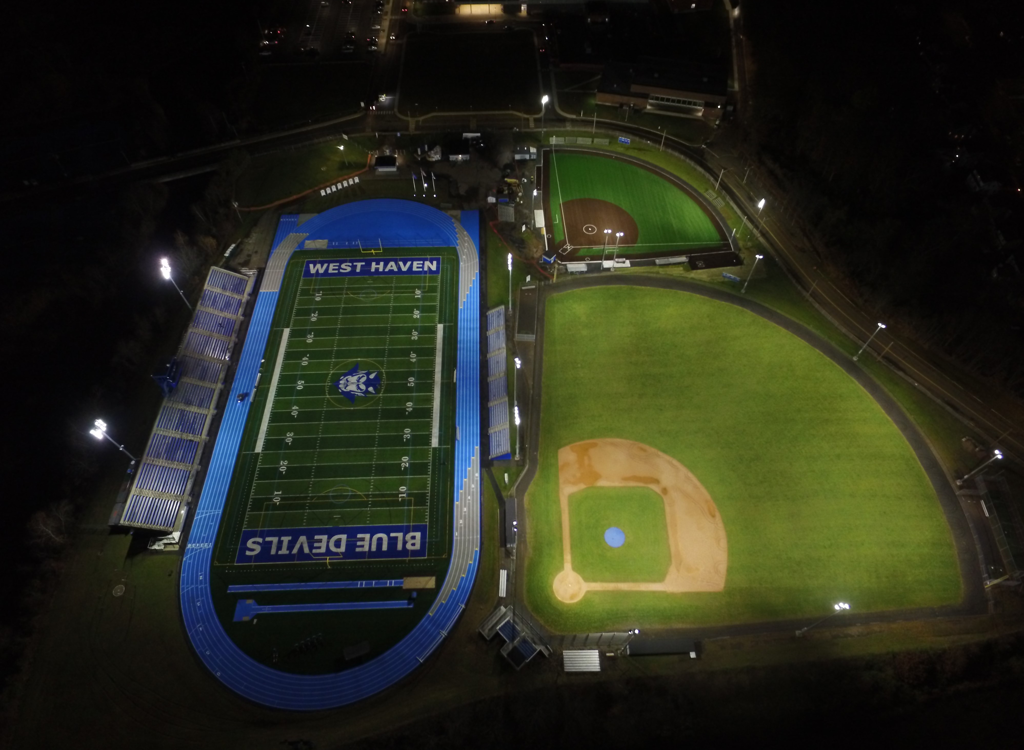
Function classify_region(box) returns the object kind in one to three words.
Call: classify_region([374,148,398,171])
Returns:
building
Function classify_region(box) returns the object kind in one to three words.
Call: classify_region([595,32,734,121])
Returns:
building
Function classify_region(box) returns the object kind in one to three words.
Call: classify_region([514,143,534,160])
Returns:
shed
